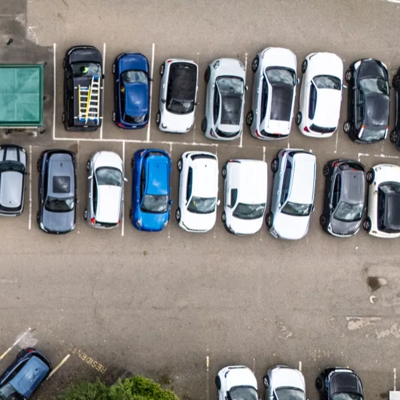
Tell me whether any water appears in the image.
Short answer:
No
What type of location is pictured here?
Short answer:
parking lot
